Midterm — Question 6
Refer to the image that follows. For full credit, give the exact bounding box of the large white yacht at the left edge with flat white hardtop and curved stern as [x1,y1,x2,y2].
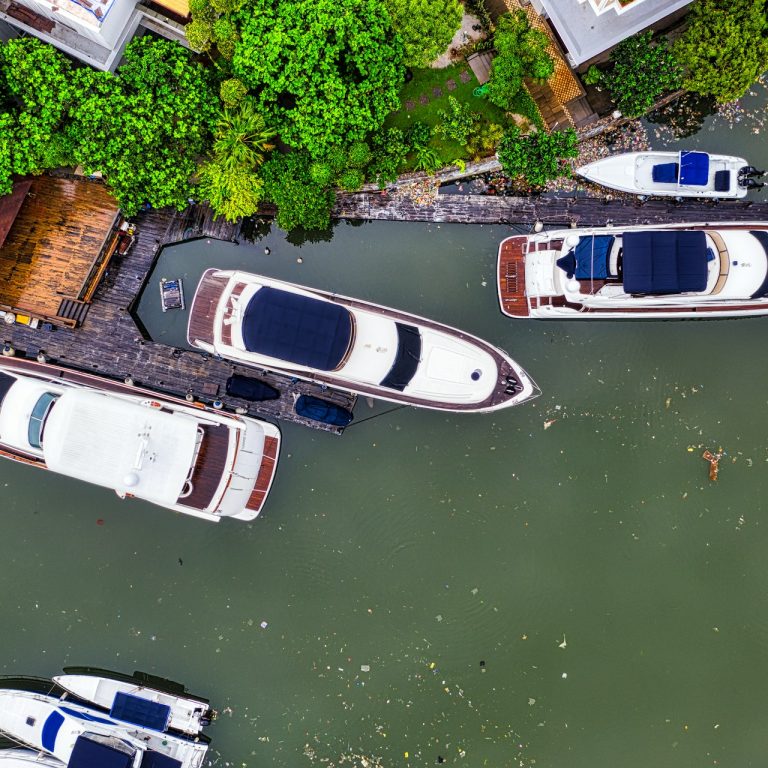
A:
[0,353,283,521]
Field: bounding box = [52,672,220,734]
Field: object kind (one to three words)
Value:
boat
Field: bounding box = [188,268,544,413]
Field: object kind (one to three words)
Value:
boat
